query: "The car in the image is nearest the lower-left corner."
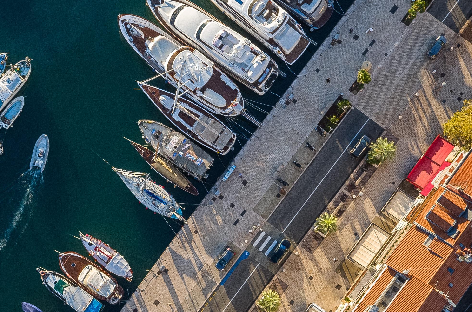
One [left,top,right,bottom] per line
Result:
[214,245,236,271]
